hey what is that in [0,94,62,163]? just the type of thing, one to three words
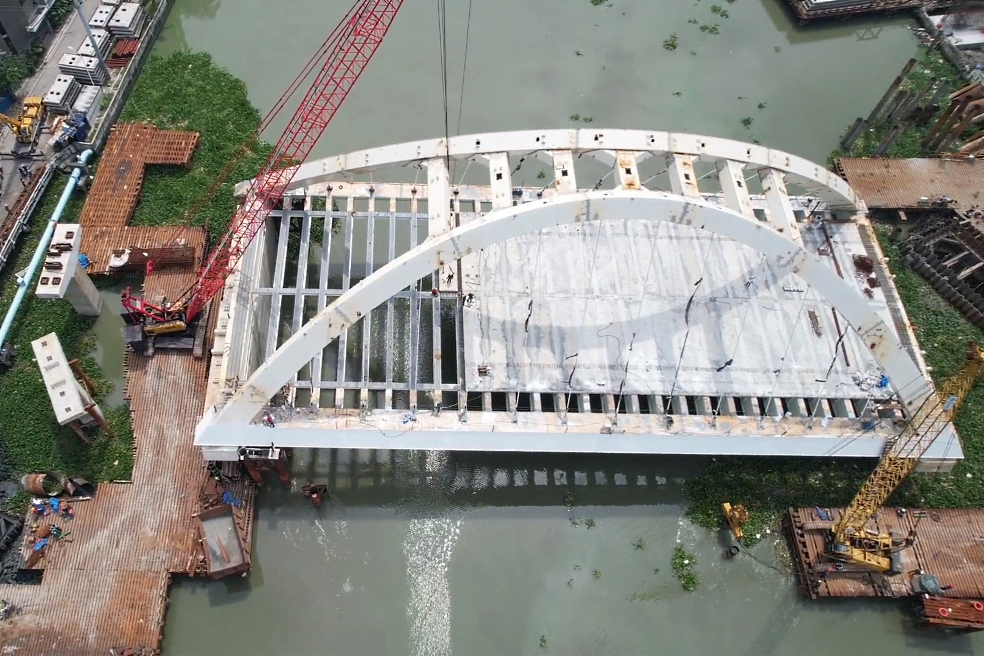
truck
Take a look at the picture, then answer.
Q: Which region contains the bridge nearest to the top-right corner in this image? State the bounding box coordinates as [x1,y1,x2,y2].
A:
[193,131,965,459]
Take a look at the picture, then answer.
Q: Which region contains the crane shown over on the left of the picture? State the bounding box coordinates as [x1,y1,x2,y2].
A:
[109,0,470,361]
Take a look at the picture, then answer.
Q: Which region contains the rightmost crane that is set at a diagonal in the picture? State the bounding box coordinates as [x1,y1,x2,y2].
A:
[795,330,984,579]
